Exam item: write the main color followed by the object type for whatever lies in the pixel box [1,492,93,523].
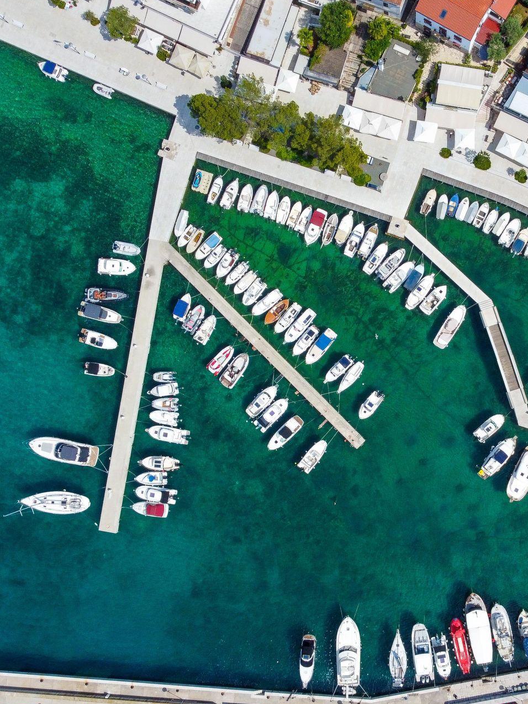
white boat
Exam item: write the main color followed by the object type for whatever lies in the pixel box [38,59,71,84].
white boat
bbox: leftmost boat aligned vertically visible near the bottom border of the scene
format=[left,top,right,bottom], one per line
[299,633,316,691]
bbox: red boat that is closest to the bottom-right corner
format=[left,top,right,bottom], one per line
[451,619,474,676]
